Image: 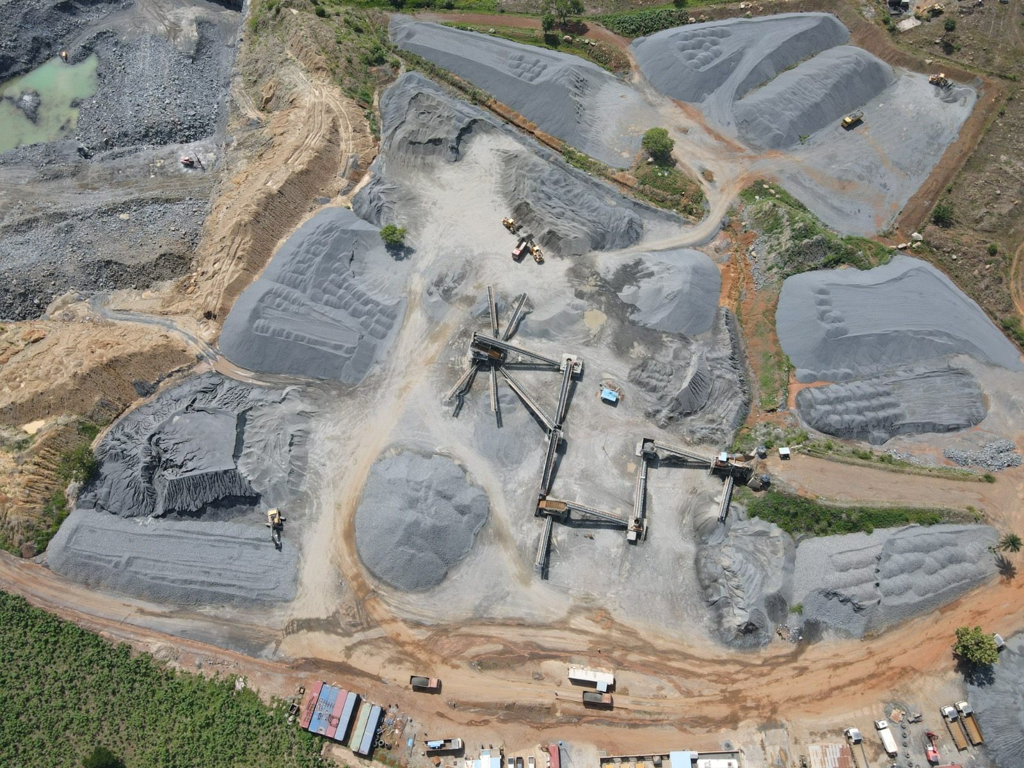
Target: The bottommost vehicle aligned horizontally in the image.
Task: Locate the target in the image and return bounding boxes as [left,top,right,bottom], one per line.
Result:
[424,738,463,753]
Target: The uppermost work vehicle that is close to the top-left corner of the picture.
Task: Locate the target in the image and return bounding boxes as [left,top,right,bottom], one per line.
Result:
[60,51,73,72]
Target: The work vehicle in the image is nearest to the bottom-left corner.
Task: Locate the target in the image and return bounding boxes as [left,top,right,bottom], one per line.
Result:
[264,507,282,540]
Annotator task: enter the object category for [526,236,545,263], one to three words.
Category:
work vehicle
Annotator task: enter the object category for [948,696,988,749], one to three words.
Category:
truck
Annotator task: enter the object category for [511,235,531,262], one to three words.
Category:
vehicle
